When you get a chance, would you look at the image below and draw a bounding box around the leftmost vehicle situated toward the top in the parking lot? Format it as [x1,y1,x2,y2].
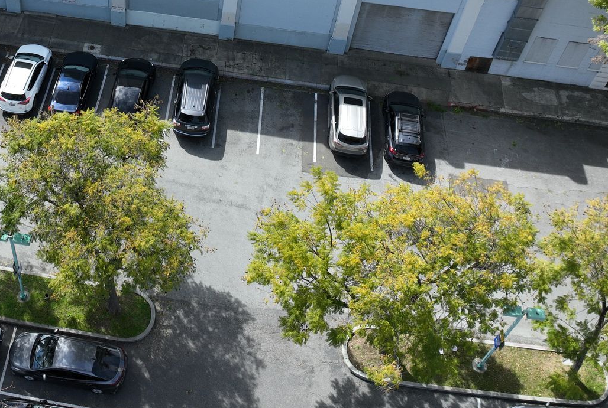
[0,45,44,113]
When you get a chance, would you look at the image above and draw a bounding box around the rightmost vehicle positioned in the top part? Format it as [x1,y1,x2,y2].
[377,93,423,167]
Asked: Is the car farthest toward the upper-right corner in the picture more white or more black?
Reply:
black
